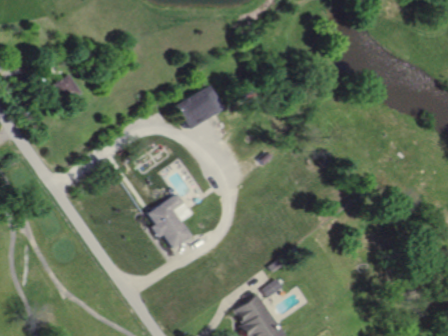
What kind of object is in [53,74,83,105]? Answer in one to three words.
house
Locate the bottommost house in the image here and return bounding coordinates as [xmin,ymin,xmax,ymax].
[232,295,285,336]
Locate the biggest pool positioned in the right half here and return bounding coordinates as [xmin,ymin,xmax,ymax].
[262,287,307,323]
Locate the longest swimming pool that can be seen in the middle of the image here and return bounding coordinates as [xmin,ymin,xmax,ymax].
[158,160,200,206]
